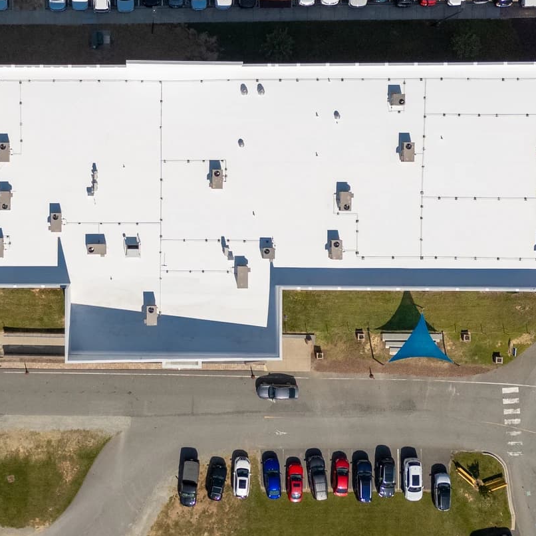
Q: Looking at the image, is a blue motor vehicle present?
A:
Yes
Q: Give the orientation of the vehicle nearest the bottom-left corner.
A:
vertically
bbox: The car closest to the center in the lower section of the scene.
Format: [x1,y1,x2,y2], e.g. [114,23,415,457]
[257,382,298,400]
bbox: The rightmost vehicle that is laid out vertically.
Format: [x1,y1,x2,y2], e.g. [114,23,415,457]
[432,472,451,511]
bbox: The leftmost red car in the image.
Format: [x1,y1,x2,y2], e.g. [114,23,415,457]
[287,463,304,502]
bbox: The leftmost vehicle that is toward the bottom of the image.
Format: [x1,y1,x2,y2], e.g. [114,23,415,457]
[179,459,198,507]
